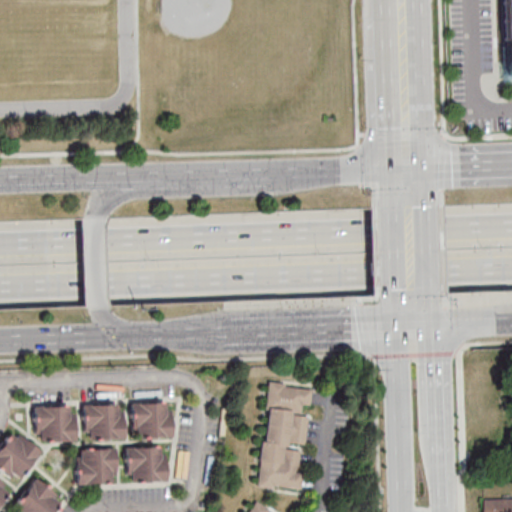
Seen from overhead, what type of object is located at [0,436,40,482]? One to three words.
house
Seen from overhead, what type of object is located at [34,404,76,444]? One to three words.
house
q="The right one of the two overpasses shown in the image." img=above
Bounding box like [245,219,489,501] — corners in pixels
[372,204,447,296]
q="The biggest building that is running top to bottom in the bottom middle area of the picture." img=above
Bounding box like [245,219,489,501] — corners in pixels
[262,383,314,492]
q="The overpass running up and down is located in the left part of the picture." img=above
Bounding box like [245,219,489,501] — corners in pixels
[83,218,112,306]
